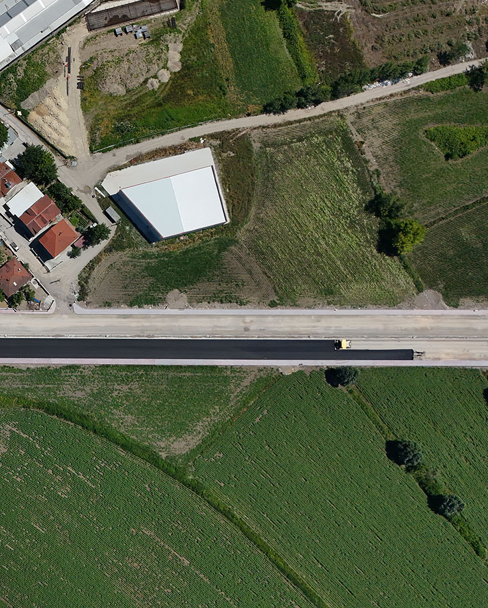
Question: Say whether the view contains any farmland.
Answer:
Yes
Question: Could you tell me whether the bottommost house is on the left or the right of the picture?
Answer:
left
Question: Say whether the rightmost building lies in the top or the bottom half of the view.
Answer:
top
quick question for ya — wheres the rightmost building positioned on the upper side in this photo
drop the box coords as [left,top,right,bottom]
[118,166,226,239]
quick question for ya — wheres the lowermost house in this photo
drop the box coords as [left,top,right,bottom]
[0,257,32,299]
